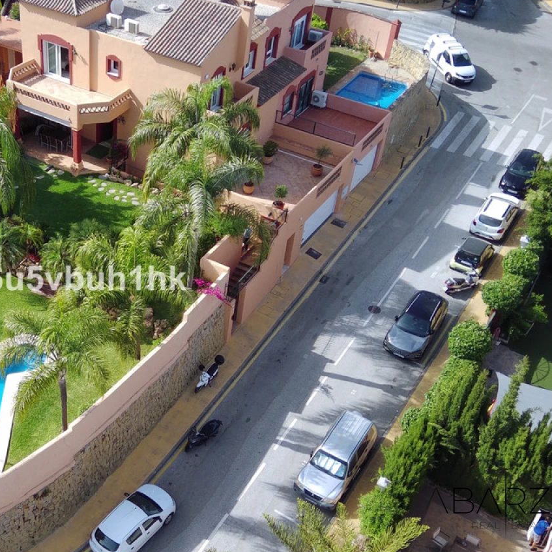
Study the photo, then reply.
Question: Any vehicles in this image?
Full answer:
Yes, a vehicle is visible in the scene.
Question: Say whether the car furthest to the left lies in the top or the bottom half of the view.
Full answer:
It is in the bottom half that the car furthest to the left appears.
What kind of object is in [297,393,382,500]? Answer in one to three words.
car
